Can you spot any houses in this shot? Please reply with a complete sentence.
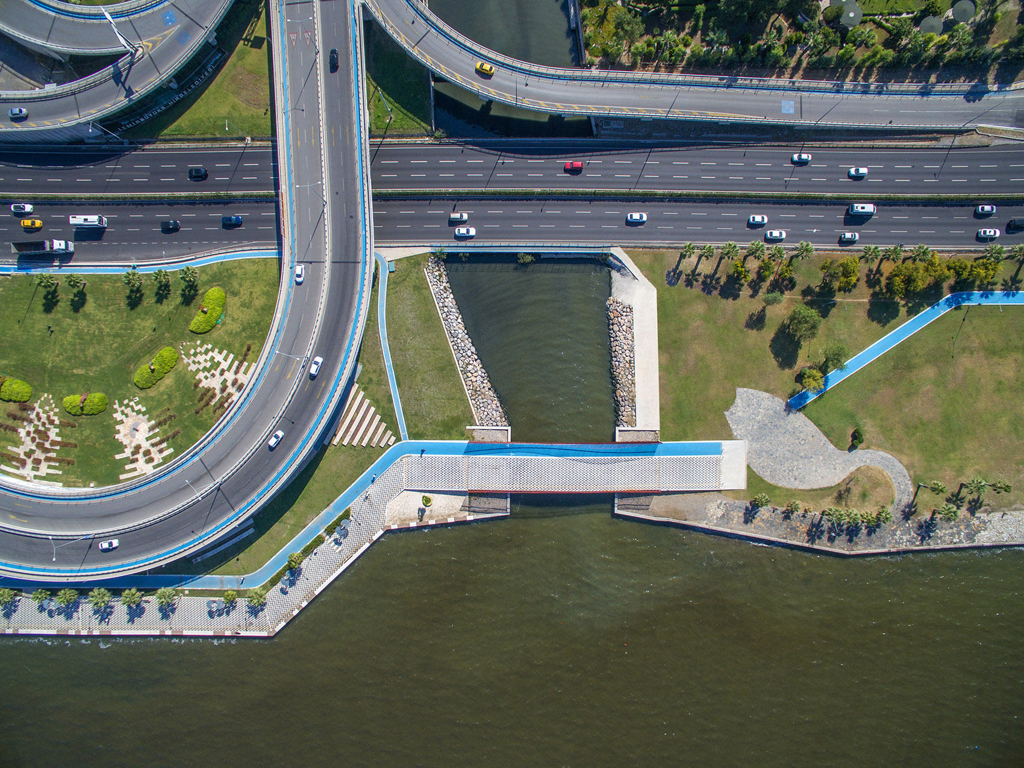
No, the scene contains no house.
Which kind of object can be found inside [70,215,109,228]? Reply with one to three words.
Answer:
vehicle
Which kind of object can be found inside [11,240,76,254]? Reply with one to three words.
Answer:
vehicle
